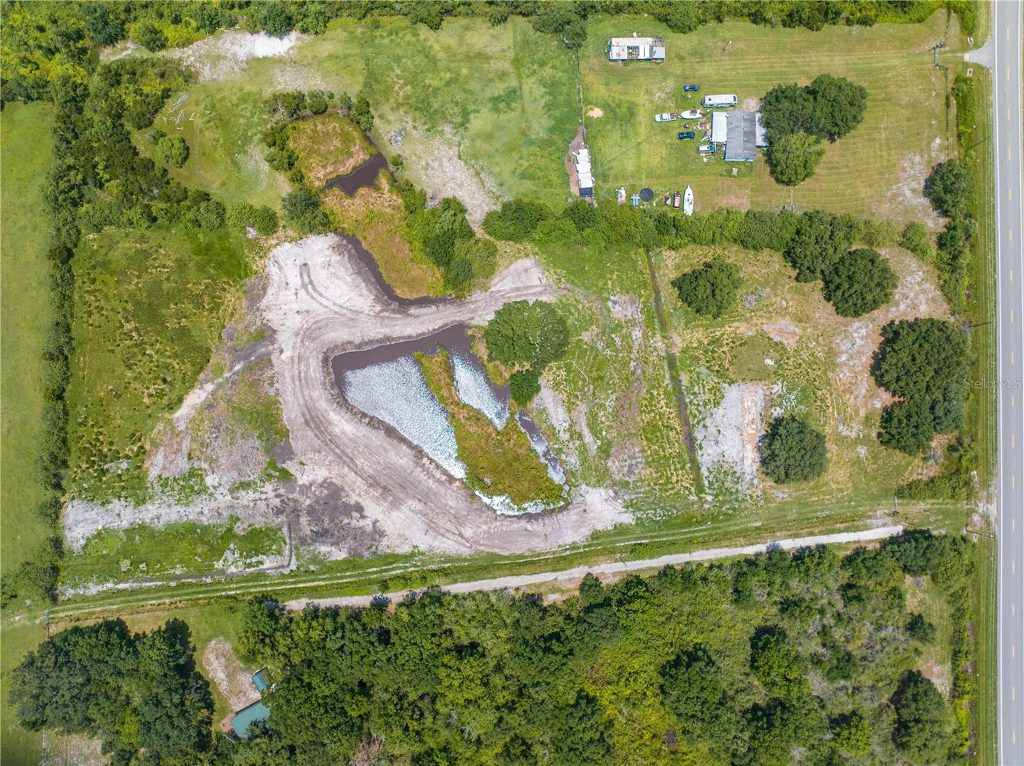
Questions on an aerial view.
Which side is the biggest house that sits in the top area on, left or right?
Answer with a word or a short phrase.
right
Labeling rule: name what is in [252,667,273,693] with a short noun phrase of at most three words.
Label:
shed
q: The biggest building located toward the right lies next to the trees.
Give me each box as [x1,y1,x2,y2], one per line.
[711,110,769,161]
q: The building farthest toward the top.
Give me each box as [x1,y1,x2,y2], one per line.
[609,37,665,61]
